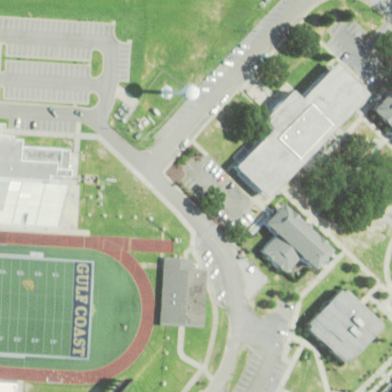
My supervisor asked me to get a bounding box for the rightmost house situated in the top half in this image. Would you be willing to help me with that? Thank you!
[374,96,392,128]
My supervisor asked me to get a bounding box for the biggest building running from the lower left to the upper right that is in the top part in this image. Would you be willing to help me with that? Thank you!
[232,64,371,202]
